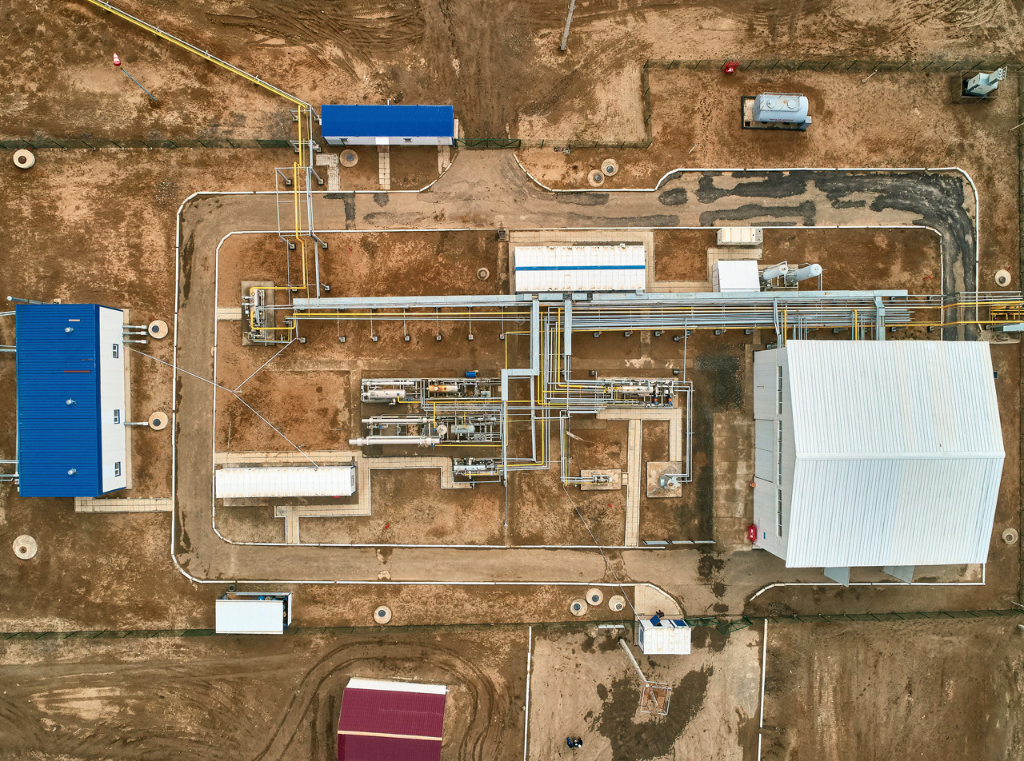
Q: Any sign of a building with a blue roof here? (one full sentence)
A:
Yes, there's a building with a blue roof down there.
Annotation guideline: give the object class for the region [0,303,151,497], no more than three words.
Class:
building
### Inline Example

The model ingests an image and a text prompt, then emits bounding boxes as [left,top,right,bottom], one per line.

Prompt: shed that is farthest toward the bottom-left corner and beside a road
[215,593,292,635]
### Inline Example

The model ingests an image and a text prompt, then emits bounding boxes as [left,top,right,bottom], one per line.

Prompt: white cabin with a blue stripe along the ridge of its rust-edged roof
[514,240,646,295]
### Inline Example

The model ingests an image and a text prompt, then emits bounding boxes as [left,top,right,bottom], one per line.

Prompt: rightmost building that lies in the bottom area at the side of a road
[754,339,1008,587]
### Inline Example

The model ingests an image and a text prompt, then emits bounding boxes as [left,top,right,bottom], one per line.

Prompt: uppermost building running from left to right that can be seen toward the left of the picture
[319,103,454,145]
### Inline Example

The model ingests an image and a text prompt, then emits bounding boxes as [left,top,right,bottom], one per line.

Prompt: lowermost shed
[336,679,449,761]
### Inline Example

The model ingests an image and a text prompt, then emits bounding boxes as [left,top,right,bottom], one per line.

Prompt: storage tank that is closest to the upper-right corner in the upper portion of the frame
[742,92,816,131]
